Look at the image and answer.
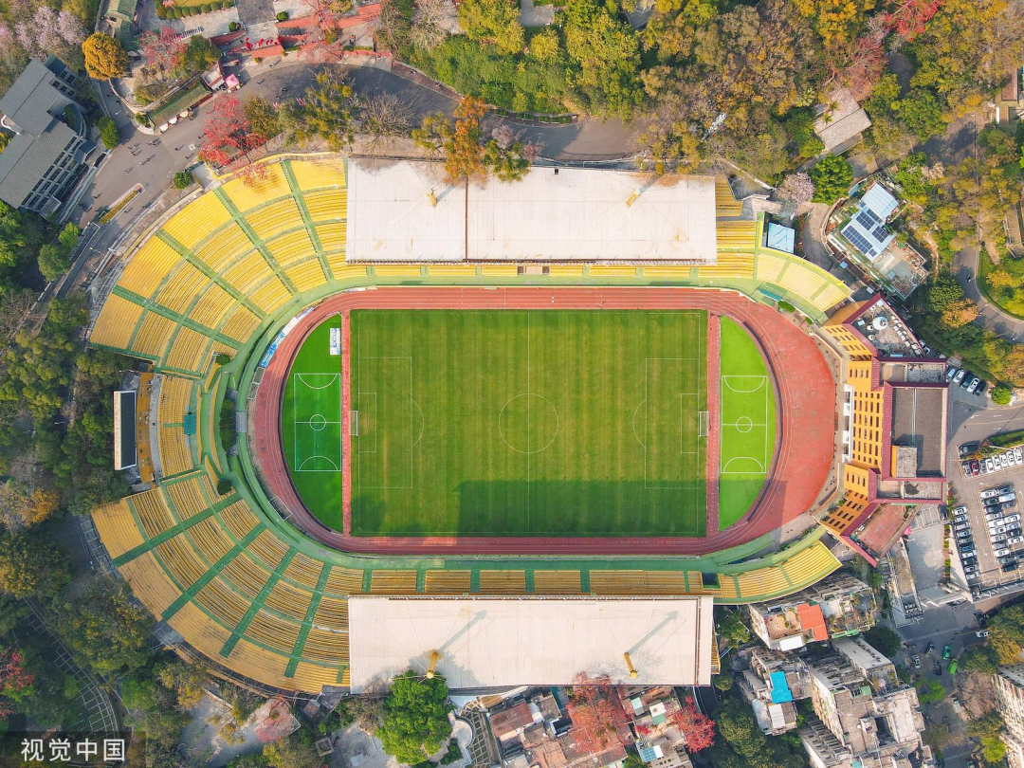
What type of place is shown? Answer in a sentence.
This image shows a sports ground.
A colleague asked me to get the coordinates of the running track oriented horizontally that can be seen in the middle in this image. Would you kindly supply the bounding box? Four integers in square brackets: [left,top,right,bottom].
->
[255,289,836,555]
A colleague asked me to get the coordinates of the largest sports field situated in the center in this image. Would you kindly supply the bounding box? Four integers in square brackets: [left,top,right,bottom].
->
[350,309,707,537]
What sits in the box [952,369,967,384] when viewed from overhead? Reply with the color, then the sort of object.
white car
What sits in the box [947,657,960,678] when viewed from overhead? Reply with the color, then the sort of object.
green vehicle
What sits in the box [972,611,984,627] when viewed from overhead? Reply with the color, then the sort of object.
black vehicle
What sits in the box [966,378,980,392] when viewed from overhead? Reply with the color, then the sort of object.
white car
